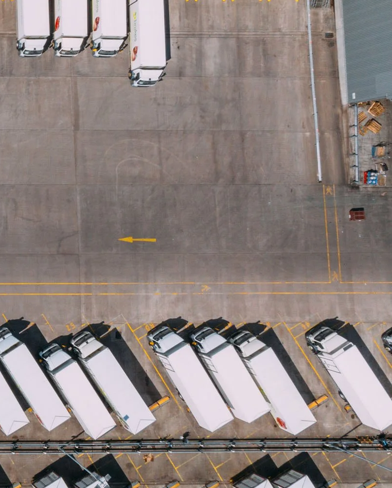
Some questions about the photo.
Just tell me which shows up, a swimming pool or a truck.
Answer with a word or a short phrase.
truck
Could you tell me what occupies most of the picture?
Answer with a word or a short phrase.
paved ground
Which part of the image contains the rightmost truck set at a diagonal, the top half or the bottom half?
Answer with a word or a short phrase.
bottom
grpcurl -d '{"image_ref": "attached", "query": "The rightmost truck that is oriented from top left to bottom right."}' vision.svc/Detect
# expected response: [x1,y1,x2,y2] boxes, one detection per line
[303,325,392,431]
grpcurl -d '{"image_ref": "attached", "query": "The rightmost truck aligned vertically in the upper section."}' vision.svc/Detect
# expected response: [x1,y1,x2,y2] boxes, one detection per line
[126,0,166,91]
